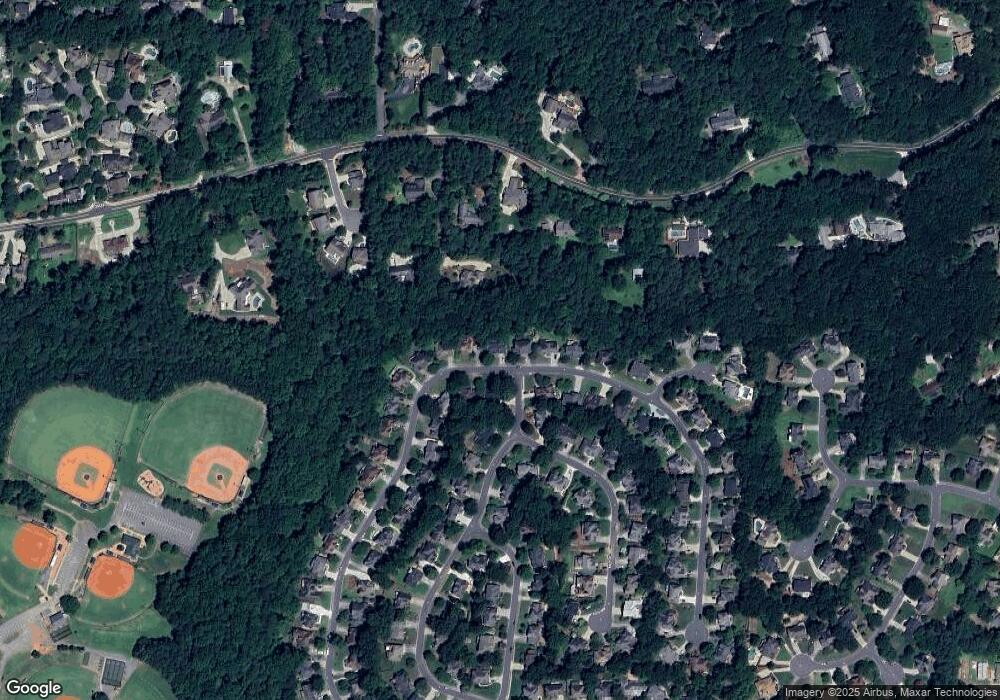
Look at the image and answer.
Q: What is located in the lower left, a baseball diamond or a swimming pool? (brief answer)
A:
baseball diamond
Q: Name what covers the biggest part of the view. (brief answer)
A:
trees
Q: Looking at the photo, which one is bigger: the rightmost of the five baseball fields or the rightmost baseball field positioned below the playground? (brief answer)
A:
the rightmost of the five baseball fields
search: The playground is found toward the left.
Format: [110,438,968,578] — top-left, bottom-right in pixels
[138,470,164,498]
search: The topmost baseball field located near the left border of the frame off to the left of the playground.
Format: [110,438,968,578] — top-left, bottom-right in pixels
[8,386,131,510]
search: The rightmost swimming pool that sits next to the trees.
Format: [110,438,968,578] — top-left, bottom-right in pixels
[935,62,953,76]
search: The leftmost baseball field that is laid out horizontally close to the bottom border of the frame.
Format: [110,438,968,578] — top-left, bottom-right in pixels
[1,664,100,700]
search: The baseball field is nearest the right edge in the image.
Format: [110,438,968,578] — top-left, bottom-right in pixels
[139,384,267,509]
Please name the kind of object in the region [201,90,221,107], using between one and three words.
swimming pool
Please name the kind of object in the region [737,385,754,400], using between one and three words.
swimming pool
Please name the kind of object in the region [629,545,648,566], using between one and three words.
house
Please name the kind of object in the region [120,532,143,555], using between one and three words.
building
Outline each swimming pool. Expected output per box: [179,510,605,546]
[165,130,177,141]
[17,119,29,133]
[935,62,953,76]
[489,63,507,85]
[849,213,867,237]
[201,90,221,107]
[142,44,158,60]
[252,294,264,308]
[737,385,754,400]
[404,37,422,56]
[753,518,766,533]
[20,183,34,191]
[669,227,688,239]
[24,77,35,93]
[120,121,134,134]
